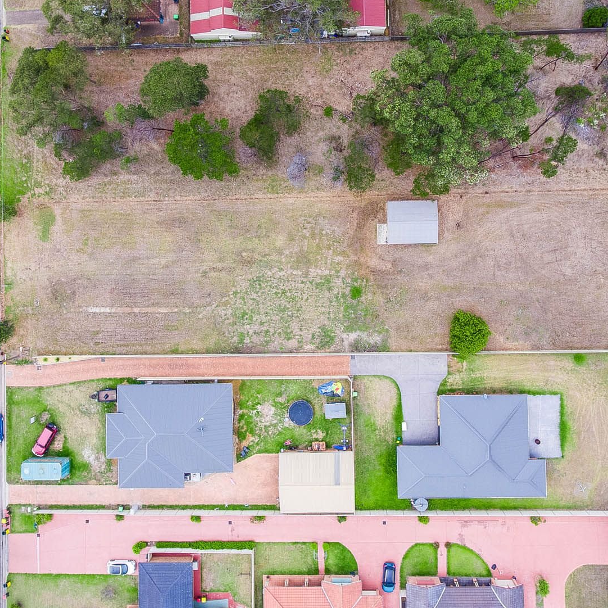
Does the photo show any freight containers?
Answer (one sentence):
Yes, the image includes a freight container.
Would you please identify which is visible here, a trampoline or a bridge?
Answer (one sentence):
I can see a trampoline in this picture.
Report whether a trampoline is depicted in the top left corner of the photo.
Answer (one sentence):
No, in the top left corner of the photo there is no trampoline.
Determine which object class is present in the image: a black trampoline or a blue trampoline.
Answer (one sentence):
This aerial view contains a blue trampoline.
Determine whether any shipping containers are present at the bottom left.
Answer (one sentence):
Yes, a shipping container appears at the bottom left.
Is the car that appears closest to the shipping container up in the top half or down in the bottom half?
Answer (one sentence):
The car that appears closest to the shipping container sits in the bottom half of the picture.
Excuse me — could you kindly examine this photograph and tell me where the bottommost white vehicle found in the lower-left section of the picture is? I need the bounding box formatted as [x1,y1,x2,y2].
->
[104,562,134,577]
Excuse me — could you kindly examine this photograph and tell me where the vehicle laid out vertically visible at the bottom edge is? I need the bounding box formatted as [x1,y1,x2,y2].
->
[383,564,397,595]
